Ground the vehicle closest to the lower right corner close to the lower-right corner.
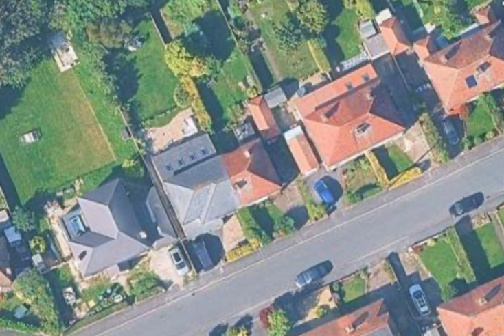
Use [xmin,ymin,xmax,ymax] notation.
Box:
[408,282,430,314]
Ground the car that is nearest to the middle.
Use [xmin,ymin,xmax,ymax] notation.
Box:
[311,176,335,207]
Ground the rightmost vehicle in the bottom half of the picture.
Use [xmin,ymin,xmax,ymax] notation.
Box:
[448,191,485,218]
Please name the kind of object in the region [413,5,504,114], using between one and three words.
house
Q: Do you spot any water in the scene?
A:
No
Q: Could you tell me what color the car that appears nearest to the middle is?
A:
blue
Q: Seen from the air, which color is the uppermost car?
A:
blue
